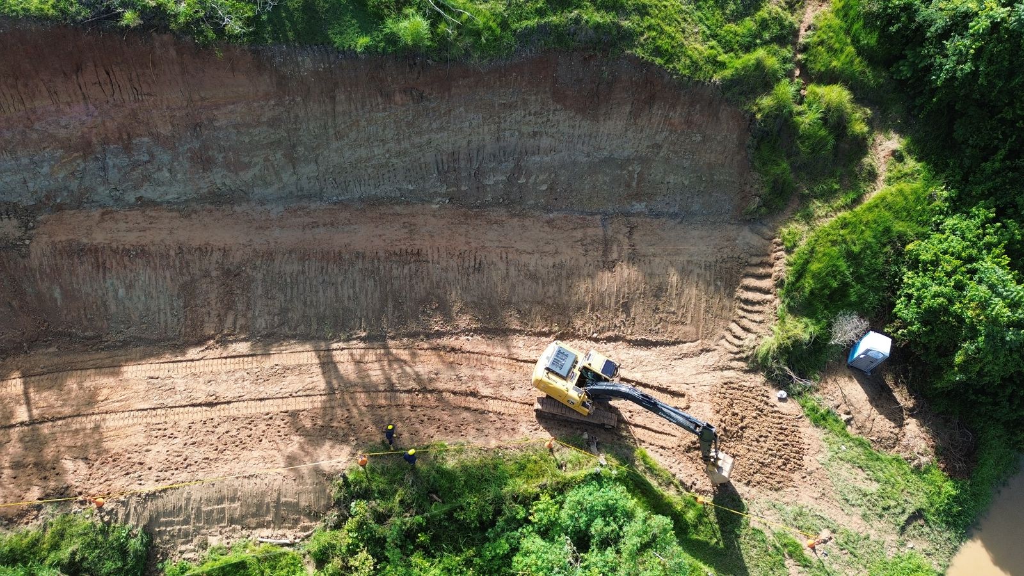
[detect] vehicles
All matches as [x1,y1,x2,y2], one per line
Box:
[531,343,734,487]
